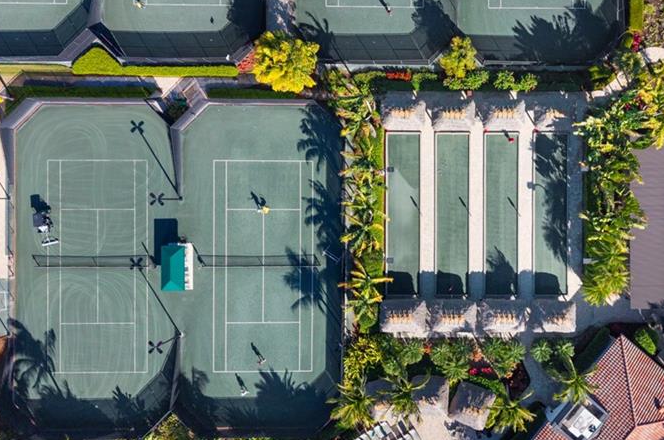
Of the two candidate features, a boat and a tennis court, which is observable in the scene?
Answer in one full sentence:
It is a tennis court that can be seen here.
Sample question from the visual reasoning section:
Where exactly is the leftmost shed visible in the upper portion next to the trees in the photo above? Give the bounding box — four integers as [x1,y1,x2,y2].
[381,94,429,137]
